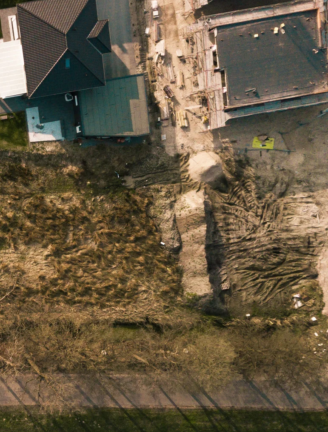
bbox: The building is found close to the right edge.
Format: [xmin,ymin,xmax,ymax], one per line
[203,7,328,109]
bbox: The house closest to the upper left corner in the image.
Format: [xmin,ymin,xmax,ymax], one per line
[15,0,111,99]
